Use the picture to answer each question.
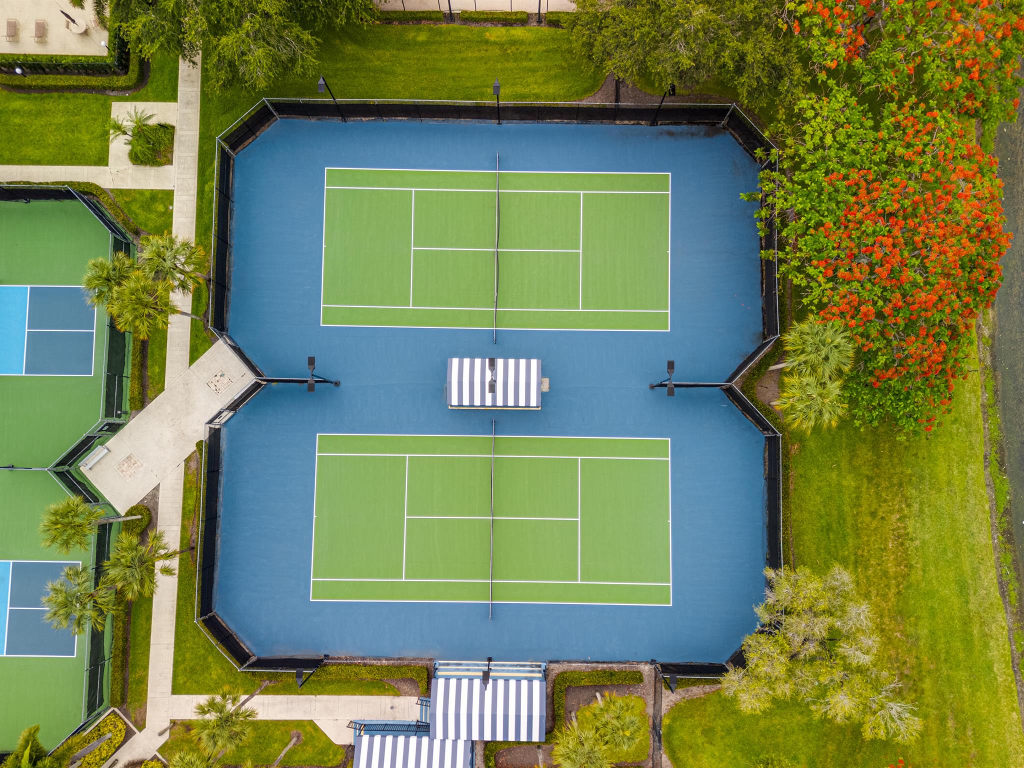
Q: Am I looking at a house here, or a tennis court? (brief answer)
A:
tennis court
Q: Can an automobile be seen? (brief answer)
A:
No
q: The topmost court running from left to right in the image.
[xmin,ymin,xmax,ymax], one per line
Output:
[229,119,762,388]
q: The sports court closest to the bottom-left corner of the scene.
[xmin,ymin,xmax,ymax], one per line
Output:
[0,469,116,747]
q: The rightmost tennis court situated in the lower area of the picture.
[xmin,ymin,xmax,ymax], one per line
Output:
[215,382,765,662]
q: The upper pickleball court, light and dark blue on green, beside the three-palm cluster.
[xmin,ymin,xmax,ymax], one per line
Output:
[0,205,130,468]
